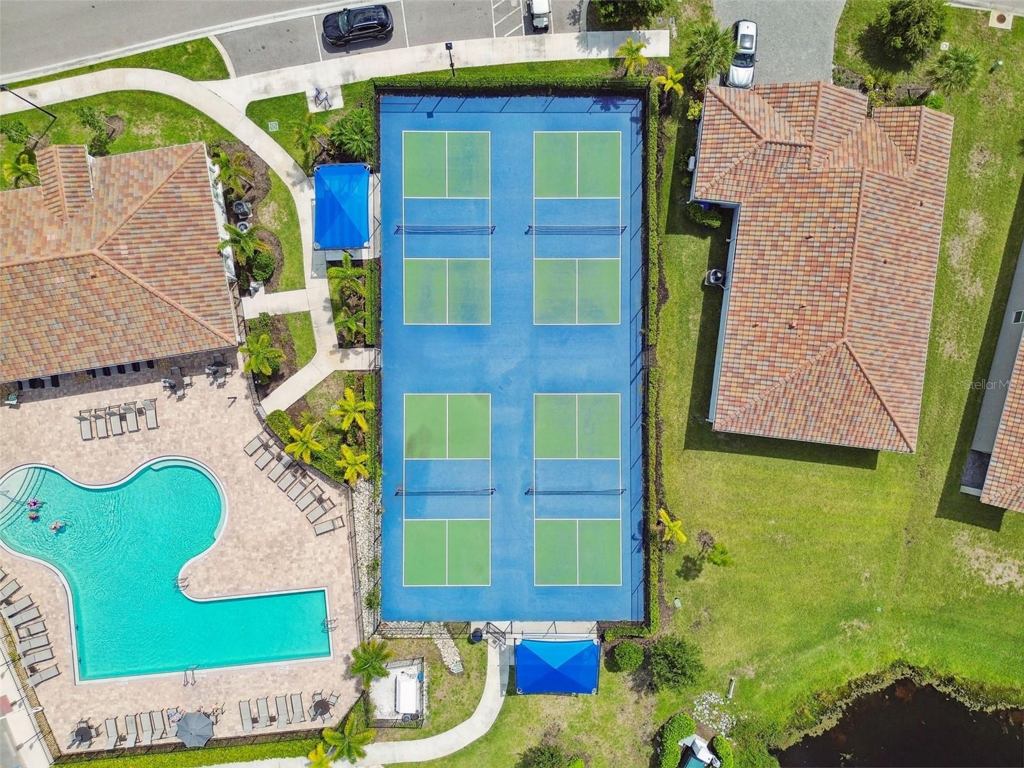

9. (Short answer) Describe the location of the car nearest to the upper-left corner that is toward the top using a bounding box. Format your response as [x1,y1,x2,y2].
[323,5,393,48]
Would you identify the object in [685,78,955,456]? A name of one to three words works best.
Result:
house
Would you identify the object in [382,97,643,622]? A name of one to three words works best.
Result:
sports court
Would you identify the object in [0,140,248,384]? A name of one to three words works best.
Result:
building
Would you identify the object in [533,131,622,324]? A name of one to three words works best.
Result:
sports court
